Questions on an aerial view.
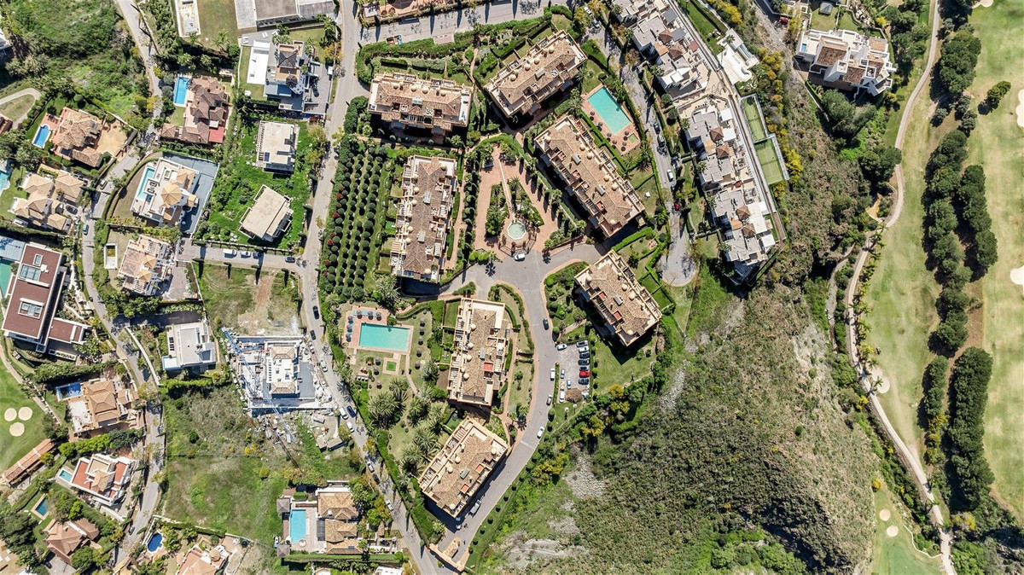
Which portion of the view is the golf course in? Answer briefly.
right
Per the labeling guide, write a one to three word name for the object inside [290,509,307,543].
swimming pool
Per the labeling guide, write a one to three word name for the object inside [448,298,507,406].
building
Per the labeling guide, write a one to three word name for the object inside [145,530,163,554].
swimming pool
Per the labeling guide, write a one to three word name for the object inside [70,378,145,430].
house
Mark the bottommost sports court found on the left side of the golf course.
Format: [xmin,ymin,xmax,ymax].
[753,134,789,185]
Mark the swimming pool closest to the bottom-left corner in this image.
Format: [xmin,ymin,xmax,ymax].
[32,496,54,519]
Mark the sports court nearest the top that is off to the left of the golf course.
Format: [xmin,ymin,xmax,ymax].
[741,95,769,143]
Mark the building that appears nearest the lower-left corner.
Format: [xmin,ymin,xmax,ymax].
[45,514,106,565]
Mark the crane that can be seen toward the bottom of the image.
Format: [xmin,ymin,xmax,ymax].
[221,327,296,437]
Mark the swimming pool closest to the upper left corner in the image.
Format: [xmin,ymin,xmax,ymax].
[34,123,51,145]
